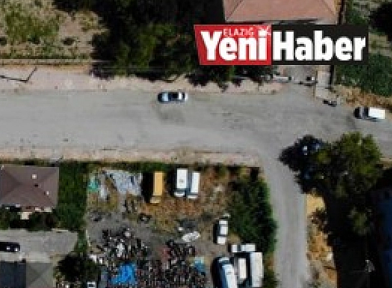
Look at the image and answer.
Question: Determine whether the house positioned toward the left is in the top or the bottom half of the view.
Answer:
bottom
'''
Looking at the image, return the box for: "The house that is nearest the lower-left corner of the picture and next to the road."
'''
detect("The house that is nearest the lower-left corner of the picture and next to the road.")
[0,165,59,221]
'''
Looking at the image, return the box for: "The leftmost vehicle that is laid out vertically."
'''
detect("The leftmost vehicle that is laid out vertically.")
[146,171,162,205]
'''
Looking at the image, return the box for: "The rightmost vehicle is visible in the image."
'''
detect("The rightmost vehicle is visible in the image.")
[347,108,388,122]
